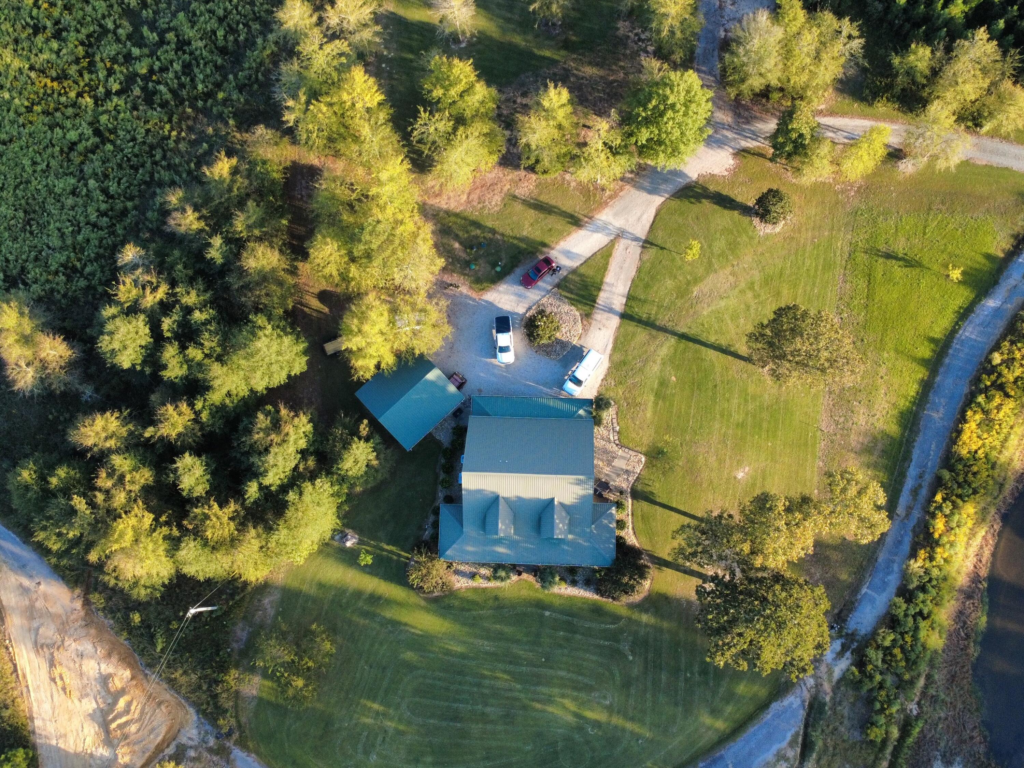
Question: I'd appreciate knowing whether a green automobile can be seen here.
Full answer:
No, the scene contains no green automobile.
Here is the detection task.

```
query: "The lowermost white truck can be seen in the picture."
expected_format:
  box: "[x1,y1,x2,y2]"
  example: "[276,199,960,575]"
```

[562,346,605,397]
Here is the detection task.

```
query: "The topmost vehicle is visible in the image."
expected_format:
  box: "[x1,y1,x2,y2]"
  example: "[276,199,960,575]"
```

[521,254,556,291]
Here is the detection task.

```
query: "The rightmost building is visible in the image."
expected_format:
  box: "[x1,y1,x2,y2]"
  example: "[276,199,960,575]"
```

[438,394,617,567]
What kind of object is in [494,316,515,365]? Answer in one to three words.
truck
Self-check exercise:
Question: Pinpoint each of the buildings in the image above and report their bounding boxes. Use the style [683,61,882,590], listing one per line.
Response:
[356,344,467,450]
[438,394,617,567]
